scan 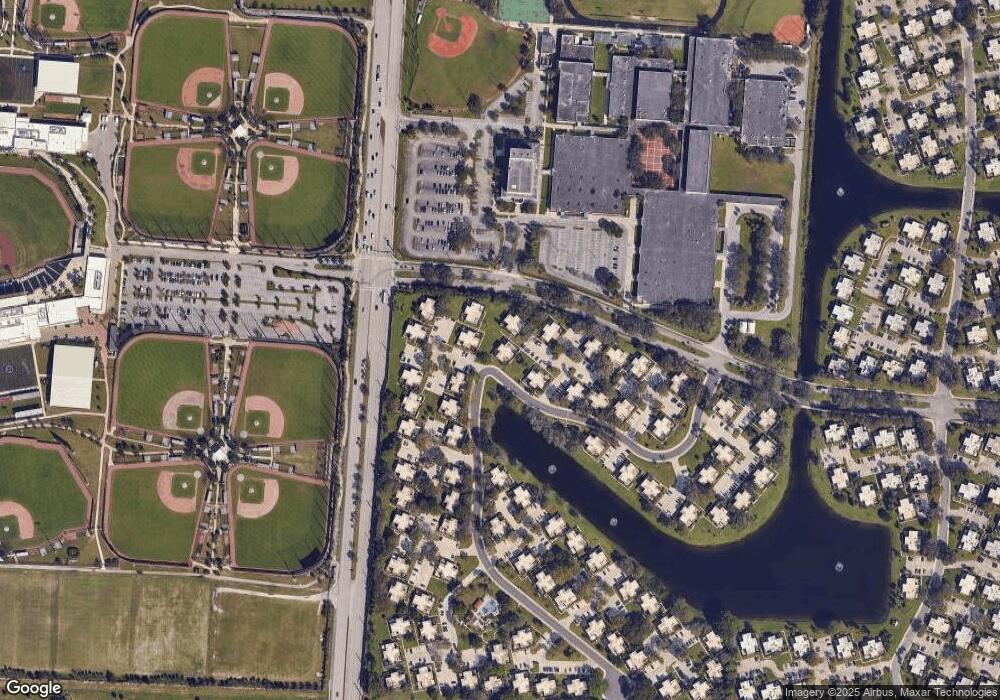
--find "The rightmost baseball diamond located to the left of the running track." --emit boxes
[409,0,522,112]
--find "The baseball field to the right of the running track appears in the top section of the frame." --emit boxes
[722,0,816,51]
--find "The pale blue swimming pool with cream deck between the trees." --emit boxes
[479,594,501,615]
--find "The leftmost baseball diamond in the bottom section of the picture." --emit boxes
[0,437,92,554]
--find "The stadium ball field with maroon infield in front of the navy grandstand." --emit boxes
[0,166,74,282]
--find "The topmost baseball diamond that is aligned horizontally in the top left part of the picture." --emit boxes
[27,0,138,40]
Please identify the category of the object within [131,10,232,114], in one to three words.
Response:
baseball field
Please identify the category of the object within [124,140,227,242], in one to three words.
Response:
baseball field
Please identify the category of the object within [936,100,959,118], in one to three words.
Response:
house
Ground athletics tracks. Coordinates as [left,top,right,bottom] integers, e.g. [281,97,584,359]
[563,0,727,30]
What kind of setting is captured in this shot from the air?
residential area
